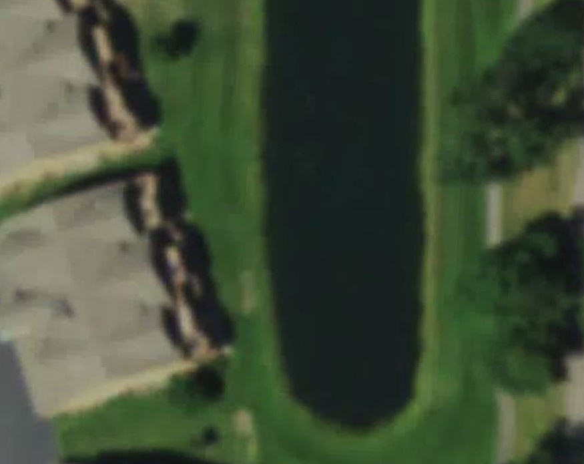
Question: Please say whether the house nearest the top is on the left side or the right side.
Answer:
left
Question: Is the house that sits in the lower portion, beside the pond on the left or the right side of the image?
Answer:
left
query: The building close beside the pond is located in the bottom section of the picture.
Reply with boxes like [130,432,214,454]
[0,169,209,420]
